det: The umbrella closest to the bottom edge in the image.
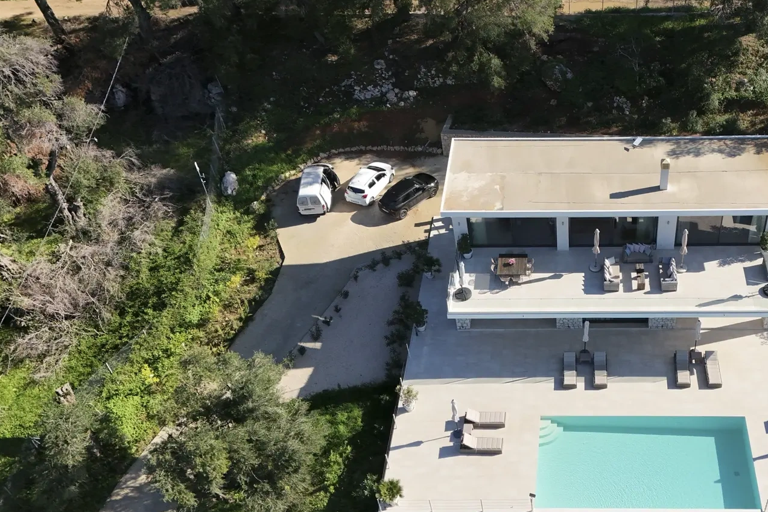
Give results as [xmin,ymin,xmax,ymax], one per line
[450,399,463,439]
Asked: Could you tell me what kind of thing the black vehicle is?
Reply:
car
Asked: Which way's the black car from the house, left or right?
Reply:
to the left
